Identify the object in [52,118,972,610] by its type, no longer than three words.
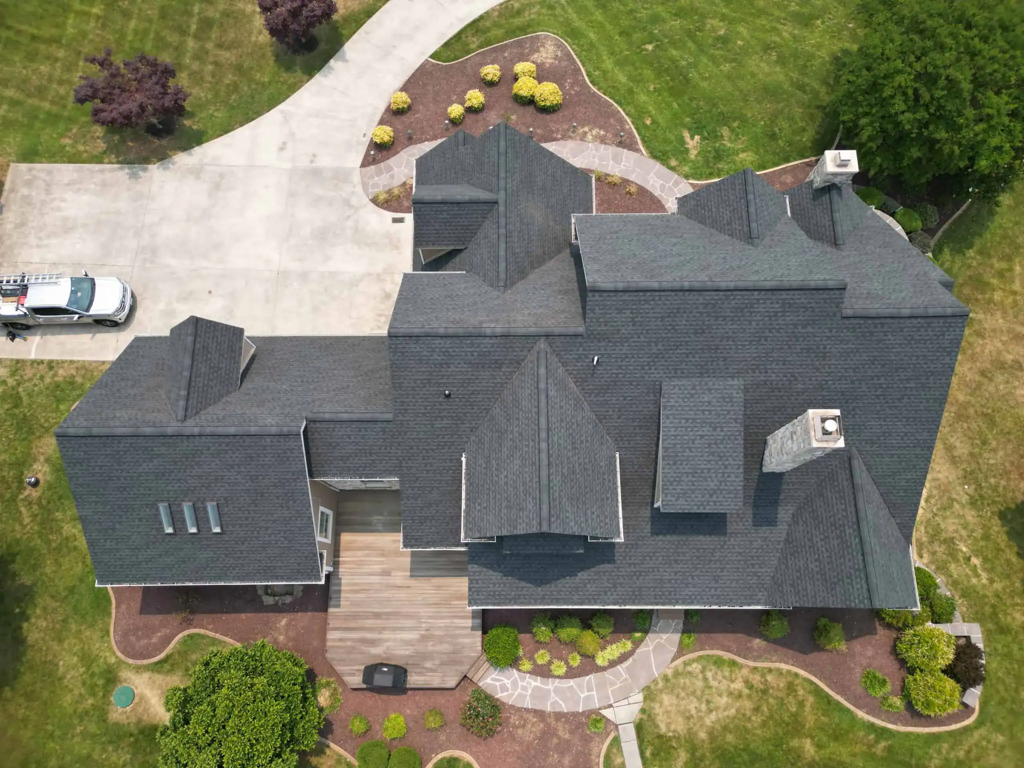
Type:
house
